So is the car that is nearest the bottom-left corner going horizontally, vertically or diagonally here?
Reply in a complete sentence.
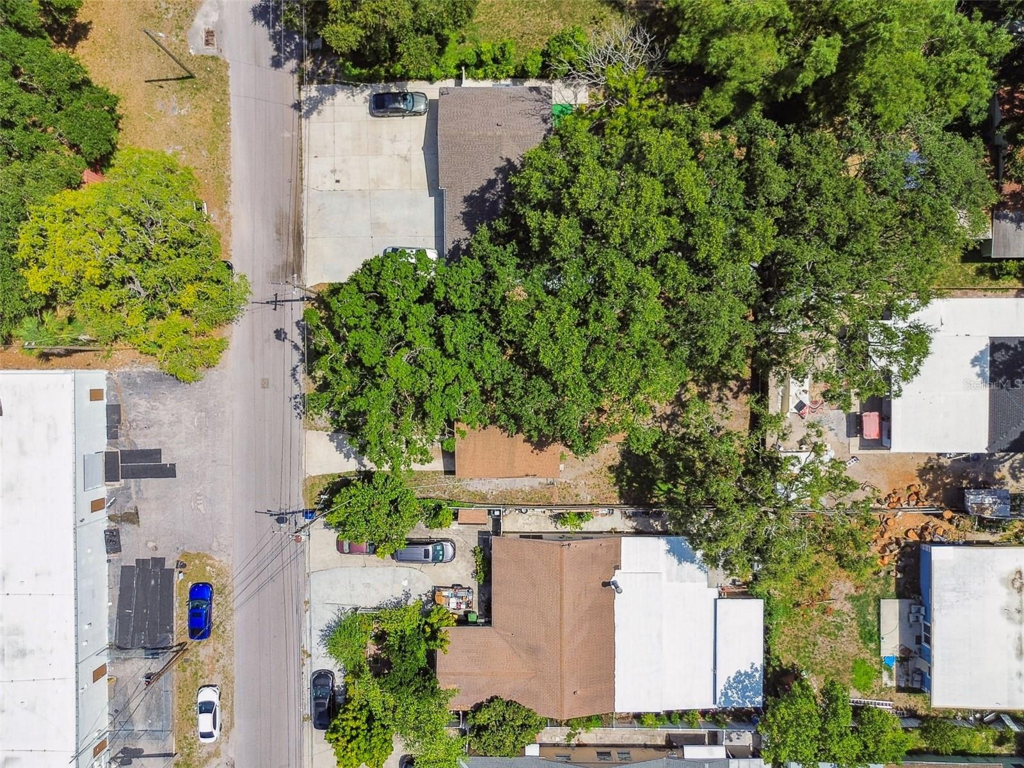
From this overhead view, the car that is nearest the bottom-left corner appears to run vertically.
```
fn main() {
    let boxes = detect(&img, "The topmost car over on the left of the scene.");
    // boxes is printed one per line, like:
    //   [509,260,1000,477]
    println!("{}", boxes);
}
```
[369,88,428,119]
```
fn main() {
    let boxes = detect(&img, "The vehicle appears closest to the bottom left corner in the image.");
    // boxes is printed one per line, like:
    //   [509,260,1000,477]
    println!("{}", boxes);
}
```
[193,683,225,744]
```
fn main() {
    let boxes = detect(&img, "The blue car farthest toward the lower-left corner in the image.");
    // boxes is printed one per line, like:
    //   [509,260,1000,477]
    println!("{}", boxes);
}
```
[185,582,216,640]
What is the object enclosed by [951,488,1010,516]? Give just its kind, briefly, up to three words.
shed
